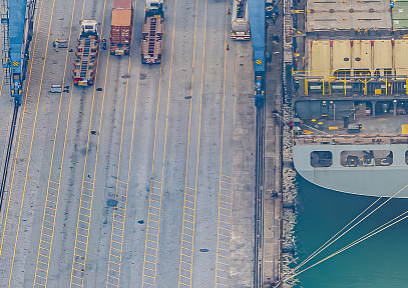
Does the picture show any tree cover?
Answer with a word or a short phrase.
No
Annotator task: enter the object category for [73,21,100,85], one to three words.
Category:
truck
